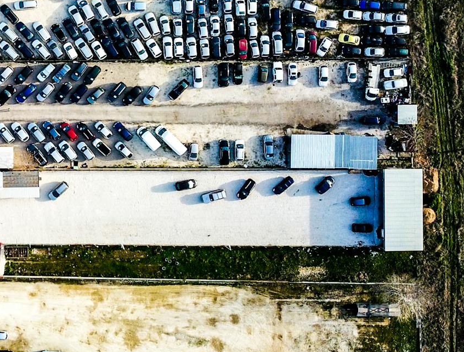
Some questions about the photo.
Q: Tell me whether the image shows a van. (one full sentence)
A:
Yes, a van is visible in the scene.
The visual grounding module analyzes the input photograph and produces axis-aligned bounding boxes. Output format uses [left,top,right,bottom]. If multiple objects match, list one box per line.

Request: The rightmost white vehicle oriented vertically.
[362,62,380,102]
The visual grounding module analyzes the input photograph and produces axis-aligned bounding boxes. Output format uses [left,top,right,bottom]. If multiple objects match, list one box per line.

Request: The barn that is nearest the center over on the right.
[286,135,377,171]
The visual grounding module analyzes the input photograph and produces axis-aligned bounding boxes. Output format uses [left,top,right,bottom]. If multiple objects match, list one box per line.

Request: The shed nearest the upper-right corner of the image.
[390,105,418,125]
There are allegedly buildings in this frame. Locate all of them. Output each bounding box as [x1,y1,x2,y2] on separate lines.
[390,105,418,125]
[286,135,377,171]
[0,147,13,169]
[0,172,42,199]
[376,169,424,251]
